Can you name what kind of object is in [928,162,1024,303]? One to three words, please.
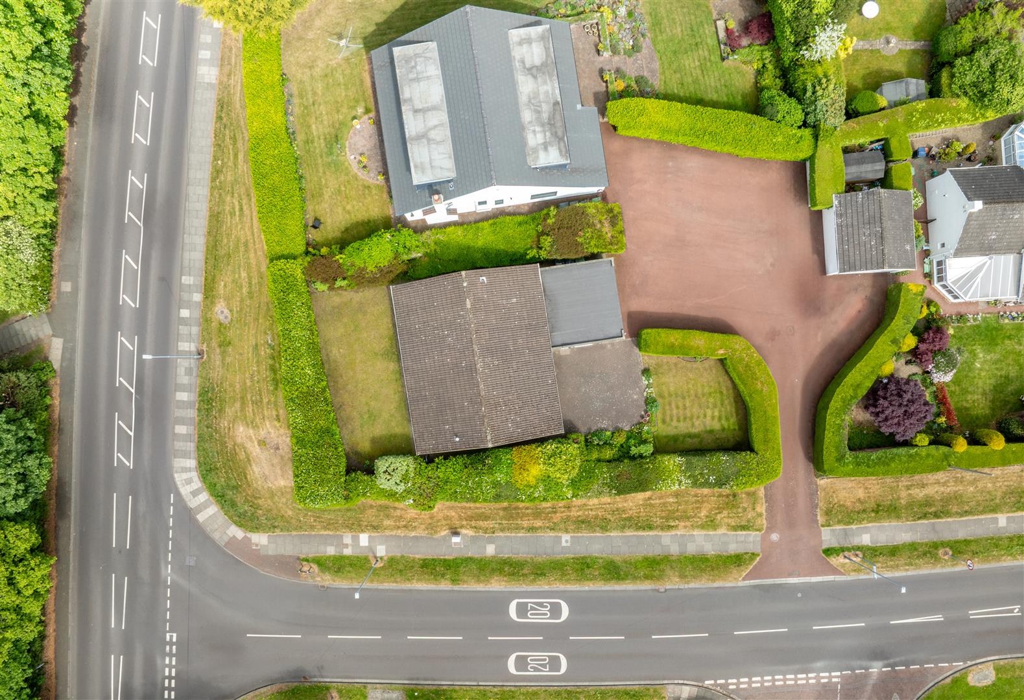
house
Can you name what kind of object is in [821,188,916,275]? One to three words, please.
building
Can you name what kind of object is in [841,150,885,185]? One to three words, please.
shed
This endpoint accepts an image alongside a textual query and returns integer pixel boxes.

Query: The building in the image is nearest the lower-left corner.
[390,264,565,455]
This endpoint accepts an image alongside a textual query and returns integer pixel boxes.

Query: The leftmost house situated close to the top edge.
[369,6,609,225]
